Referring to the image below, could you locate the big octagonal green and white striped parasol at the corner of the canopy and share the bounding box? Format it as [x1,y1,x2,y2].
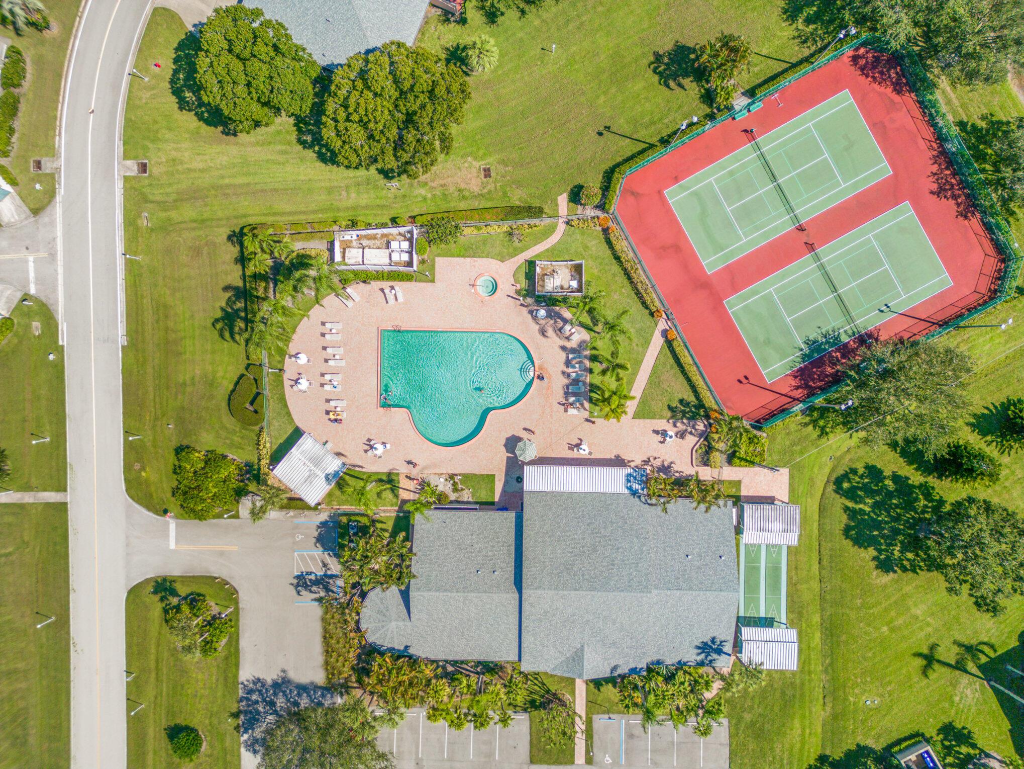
[515,442,537,464]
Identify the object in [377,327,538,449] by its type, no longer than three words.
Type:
swimming pool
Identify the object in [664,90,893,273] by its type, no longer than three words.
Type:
tennis court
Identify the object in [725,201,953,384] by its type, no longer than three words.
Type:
tennis court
